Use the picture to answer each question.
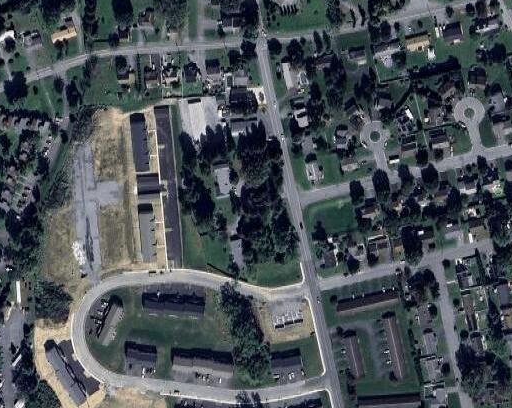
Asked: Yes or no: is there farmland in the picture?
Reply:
No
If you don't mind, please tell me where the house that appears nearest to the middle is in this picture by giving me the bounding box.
[214,167,231,195]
